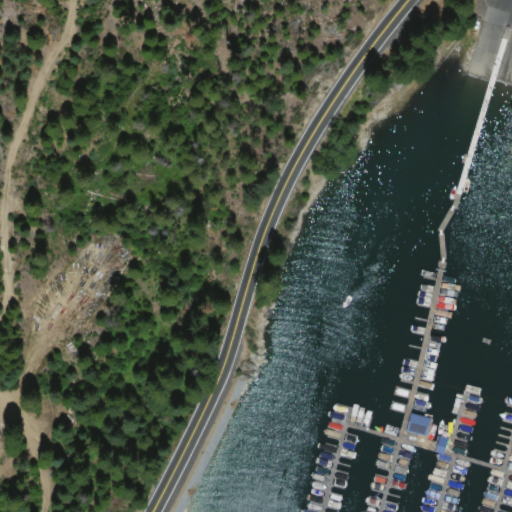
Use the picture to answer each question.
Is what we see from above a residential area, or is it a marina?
marina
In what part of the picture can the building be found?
bottom right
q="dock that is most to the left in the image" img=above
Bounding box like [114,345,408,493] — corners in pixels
[310,406,355,512]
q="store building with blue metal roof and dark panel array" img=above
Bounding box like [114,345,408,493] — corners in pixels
[407,413,433,436]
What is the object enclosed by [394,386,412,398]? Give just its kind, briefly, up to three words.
boat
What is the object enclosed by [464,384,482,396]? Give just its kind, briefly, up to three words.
boat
